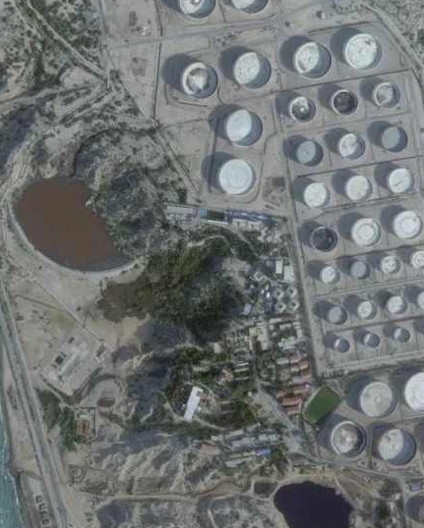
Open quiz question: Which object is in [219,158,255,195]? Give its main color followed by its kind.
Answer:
white storage tank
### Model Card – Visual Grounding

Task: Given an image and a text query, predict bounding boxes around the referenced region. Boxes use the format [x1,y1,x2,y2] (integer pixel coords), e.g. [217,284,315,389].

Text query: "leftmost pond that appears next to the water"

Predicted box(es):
[17,176,133,272]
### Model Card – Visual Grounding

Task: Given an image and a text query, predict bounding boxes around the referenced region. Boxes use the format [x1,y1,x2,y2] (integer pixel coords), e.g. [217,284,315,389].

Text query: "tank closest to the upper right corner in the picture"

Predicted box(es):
[344,32,381,69]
